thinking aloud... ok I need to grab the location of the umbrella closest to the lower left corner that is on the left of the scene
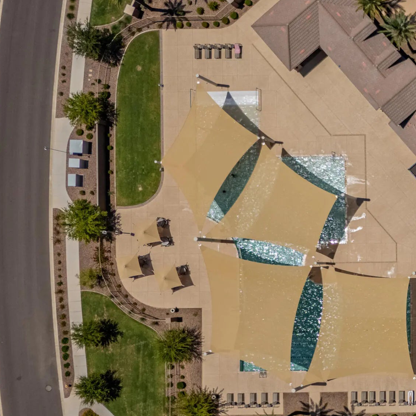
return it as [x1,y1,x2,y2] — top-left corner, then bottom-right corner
[115,253,142,279]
